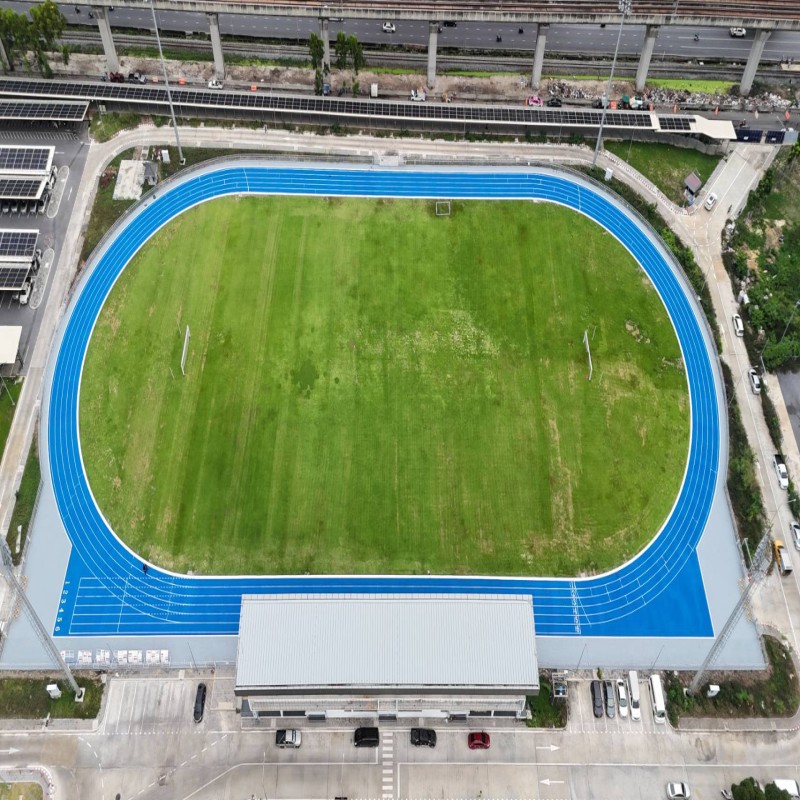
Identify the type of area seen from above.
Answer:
sports ground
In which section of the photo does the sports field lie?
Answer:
center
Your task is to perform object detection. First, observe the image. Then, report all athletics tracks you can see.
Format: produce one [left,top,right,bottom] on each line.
[0,159,767,670]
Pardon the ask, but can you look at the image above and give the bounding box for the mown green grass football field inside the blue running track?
[78,194,690,577]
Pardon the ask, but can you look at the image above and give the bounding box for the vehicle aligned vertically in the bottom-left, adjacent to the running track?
[192,681,206,725]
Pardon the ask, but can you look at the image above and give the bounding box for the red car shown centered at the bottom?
[467,731,491,751]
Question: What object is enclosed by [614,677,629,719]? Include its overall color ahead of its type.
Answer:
white car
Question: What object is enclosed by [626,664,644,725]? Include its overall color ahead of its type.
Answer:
white vehicle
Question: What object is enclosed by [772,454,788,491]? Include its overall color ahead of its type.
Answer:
white vehicle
